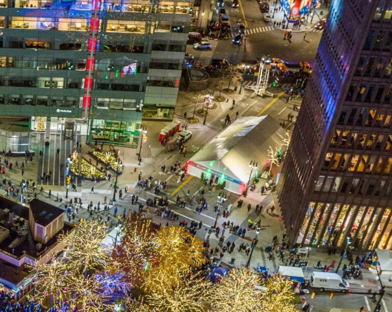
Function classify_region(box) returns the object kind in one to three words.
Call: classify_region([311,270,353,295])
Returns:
vehicle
